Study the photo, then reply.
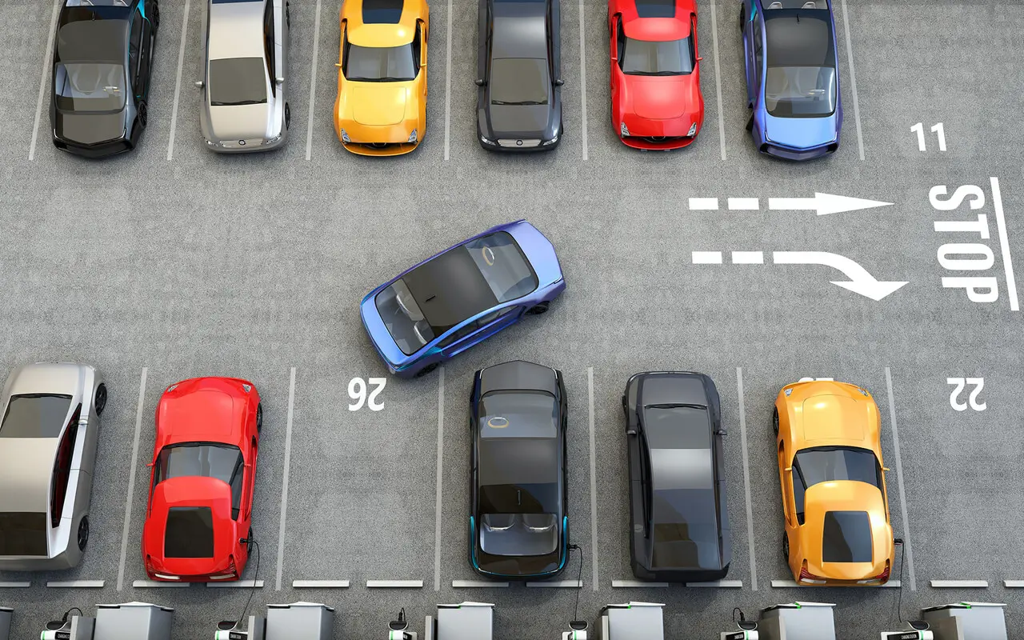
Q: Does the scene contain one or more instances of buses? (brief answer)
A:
No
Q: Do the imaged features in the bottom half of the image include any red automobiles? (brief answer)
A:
Yes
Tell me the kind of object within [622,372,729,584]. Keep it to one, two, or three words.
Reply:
car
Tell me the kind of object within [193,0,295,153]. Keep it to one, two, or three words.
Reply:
car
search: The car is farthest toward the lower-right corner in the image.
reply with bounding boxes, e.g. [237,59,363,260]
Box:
[776,381,895,587]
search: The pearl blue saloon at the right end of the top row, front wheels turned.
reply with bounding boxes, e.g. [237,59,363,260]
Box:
[742,0,841,161]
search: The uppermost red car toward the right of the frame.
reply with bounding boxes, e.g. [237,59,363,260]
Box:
[609,0,705,156]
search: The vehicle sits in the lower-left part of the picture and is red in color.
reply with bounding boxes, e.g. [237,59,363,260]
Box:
[143,379,259,584]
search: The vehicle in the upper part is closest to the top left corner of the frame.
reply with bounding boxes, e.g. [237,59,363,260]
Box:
[55,0,155,161]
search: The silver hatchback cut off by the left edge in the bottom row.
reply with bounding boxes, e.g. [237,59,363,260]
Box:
[0,365,105,576]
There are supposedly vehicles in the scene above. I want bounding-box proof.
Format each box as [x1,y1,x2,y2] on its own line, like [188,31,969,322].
[332,0,429,161]
[55,0,155,161]
[742,0,841,161]
[143,379,259,584]
[609,0,705,156]
[470,359,567,580]
[472,0,567,152]
[358,219,565,380]
[622,372,729,584]
[776,381,895,587]
[0,365,105,576]
[193,0,295,153]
